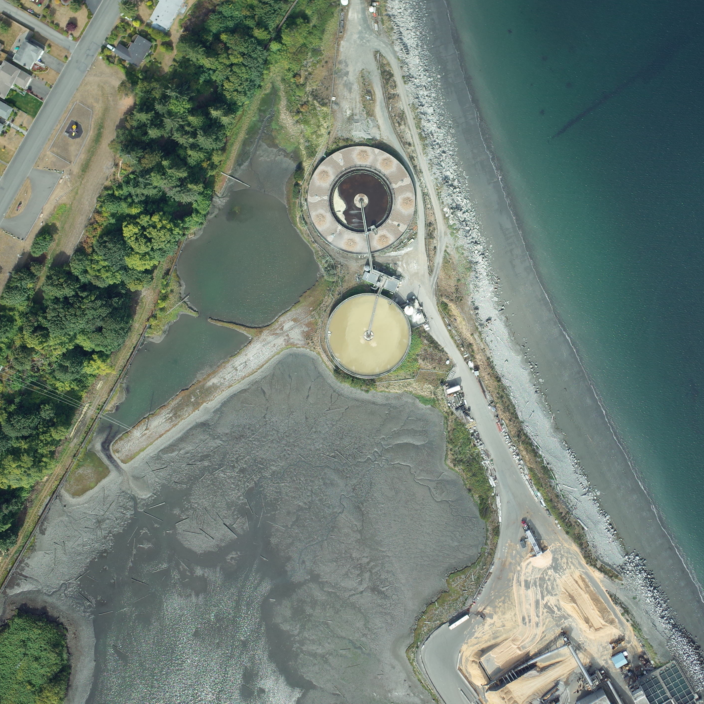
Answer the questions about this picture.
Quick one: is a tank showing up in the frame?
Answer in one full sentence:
Yes, I can see a tank in this picture.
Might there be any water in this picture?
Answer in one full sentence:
Yes, there's water in this view.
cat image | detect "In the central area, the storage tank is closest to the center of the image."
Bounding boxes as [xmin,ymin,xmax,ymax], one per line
[326,287,411,378]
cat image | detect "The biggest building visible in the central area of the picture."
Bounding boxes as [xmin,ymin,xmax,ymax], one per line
[356,269,400,293]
